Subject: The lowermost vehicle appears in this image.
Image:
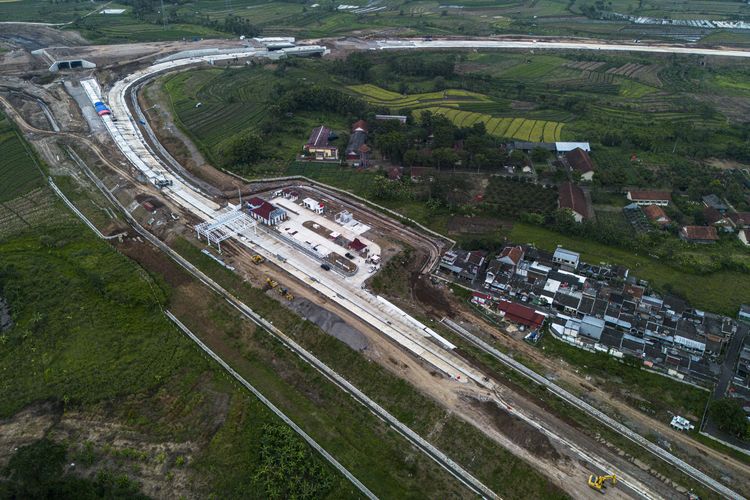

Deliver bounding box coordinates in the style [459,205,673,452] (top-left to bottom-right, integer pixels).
[587,471,621,490]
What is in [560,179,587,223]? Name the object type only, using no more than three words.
house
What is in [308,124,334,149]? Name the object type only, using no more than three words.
house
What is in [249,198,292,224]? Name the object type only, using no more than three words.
building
